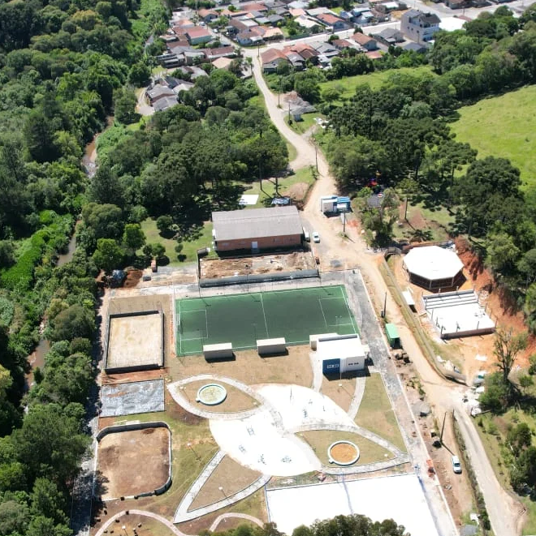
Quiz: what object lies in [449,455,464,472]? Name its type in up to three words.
car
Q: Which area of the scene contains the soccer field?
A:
center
